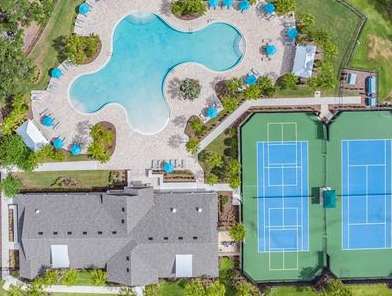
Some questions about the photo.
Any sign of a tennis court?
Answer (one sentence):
Yes, the frame does contain a tennis court.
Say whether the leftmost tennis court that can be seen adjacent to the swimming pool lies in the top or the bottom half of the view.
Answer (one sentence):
You can find the leftmost tennis court that can be seen adjacent to the swimming pool in the bottom half.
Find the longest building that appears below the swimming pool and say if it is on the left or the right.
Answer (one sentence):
You can find the longest building that appears below the swimming pool on the left side of the picture.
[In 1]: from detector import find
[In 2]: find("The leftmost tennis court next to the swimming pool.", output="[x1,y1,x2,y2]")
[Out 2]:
[241,113,327,280]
